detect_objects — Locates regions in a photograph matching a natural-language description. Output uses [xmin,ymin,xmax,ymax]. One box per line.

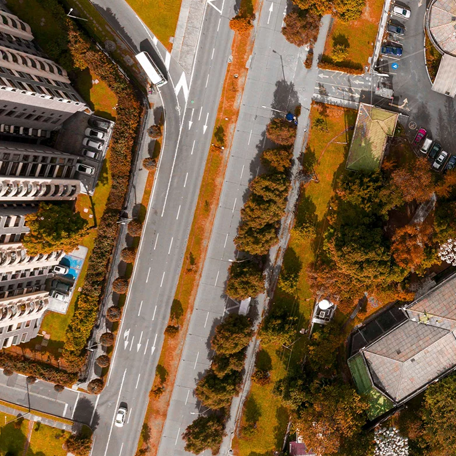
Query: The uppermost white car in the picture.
[392,7,413,19]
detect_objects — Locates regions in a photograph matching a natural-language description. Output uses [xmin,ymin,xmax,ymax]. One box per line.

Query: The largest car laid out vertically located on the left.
[117,405,129,427]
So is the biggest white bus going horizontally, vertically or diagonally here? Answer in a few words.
diagonally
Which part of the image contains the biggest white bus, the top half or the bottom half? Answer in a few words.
top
